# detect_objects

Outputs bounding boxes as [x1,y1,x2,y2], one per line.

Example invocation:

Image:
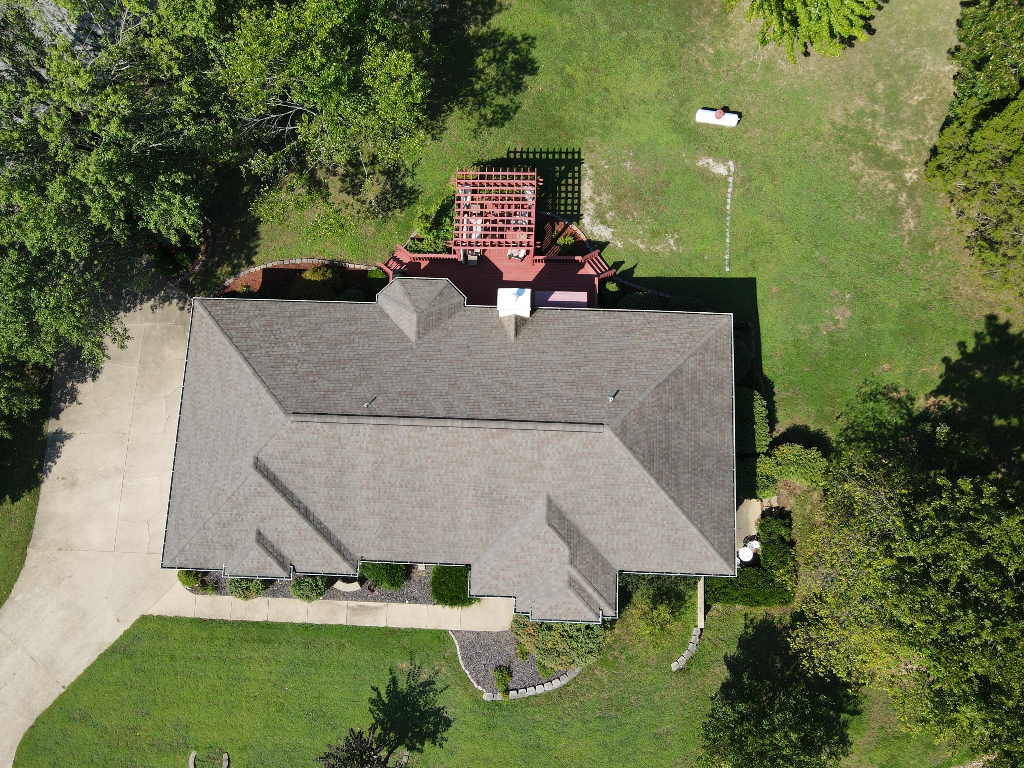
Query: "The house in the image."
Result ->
[160,277,738,624]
